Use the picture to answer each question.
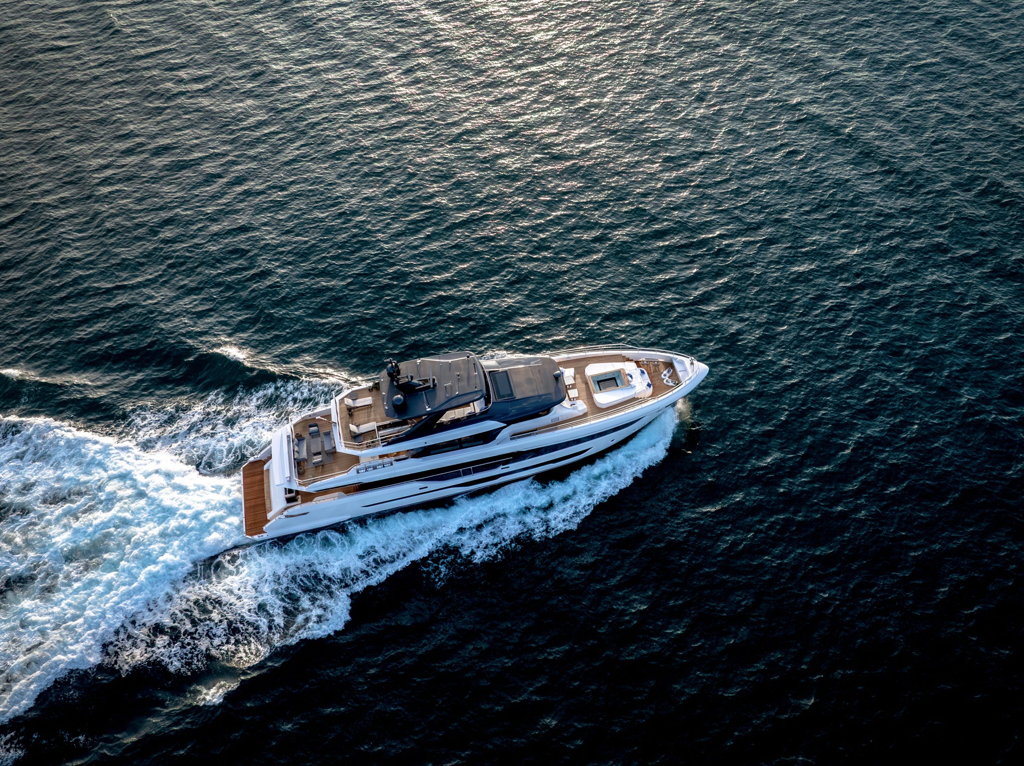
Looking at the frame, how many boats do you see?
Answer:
one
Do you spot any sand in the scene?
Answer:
No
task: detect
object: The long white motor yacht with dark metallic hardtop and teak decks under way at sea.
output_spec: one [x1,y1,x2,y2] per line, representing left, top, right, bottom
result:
[241,333,708,541]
